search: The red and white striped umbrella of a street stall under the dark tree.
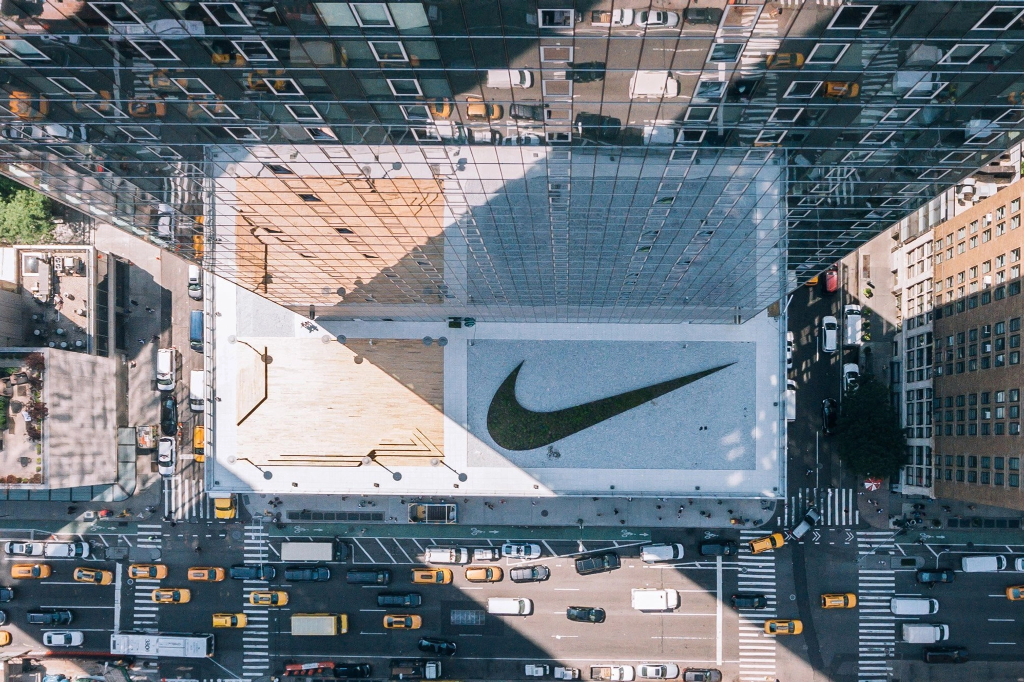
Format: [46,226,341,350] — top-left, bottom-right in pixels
[863,474,881,492]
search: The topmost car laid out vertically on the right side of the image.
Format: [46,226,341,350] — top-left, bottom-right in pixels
[823,263,840,296]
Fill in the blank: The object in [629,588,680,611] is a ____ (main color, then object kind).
white truck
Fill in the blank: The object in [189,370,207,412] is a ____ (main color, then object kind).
white vehicle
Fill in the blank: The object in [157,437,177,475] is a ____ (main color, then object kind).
white car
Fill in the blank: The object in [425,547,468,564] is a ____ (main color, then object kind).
white vehicle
